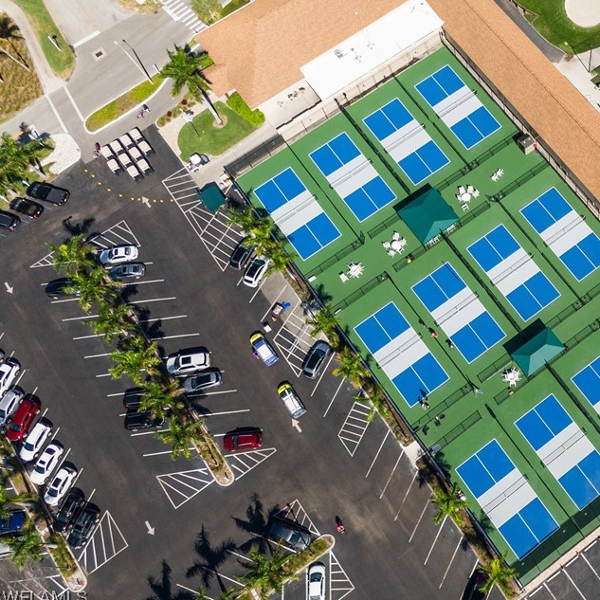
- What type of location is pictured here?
sports ground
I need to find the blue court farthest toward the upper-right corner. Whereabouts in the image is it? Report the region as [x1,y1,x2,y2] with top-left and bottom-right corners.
[415,65,501,149]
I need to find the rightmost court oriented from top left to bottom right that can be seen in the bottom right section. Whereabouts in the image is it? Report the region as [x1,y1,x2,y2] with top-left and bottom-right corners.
[515,394,600,510]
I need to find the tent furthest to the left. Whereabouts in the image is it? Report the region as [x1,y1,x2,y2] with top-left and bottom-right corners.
[200,182,234,216]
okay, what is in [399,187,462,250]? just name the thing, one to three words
tent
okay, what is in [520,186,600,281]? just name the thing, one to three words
sports court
